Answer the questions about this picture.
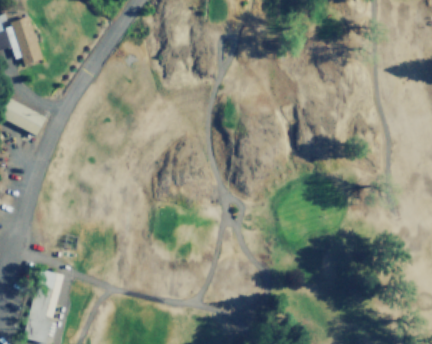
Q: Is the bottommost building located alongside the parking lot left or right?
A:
left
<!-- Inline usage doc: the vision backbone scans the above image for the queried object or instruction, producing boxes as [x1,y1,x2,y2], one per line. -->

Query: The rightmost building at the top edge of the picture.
[7,14,43,65]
